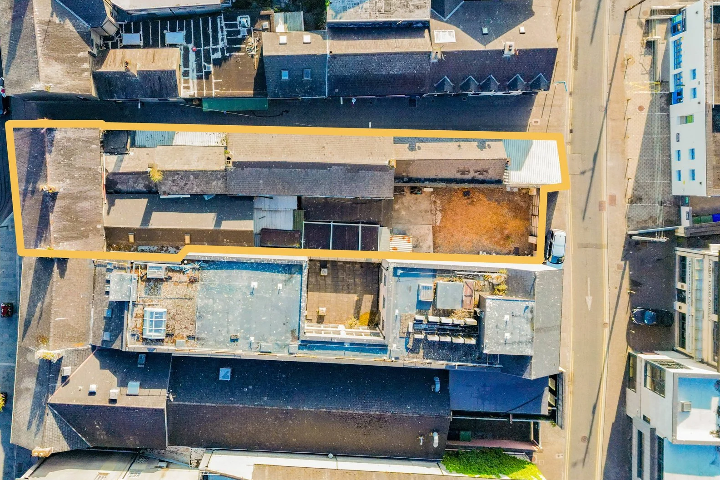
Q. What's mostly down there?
buildings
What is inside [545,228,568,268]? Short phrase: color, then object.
white car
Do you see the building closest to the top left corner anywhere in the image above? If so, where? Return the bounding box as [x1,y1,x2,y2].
[0,0,122,106]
